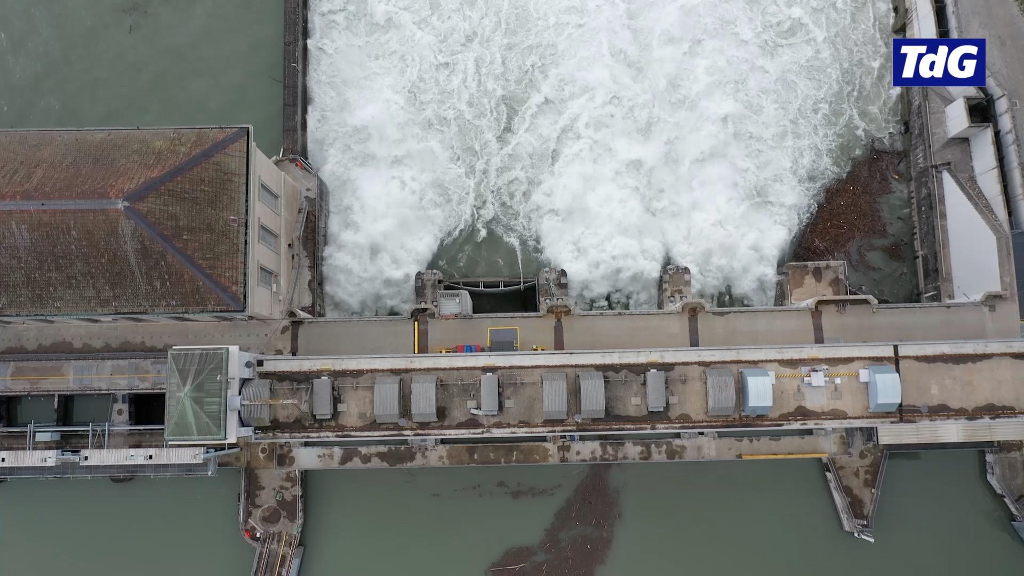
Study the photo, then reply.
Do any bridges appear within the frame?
Yes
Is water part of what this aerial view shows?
Yes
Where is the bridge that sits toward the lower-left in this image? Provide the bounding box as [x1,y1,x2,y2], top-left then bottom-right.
[248,532,303,576]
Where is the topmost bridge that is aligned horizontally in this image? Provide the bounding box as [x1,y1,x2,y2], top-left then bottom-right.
[253,338,1024,442]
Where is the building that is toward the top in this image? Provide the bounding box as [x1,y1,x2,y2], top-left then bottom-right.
[0,127,298,326]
